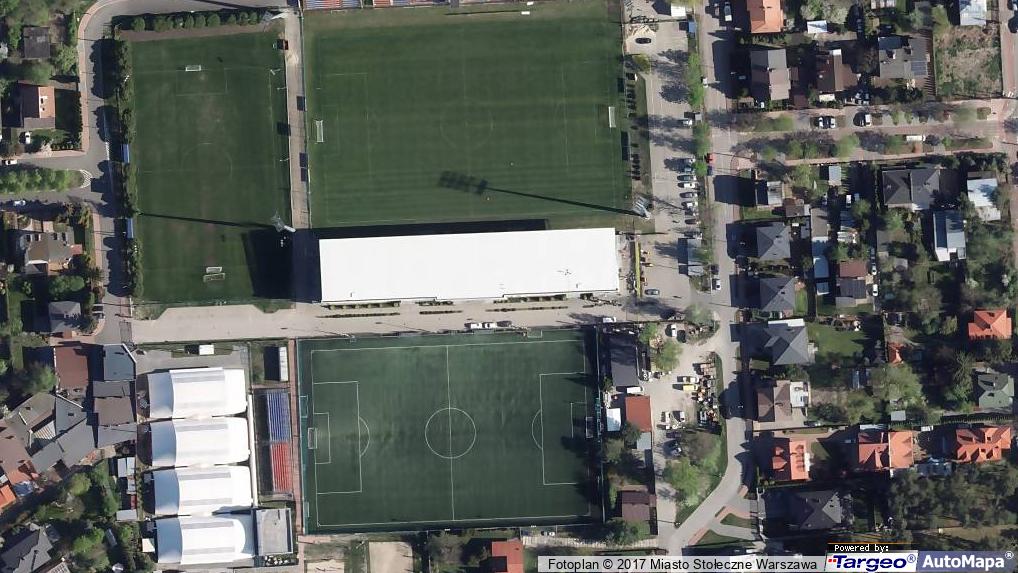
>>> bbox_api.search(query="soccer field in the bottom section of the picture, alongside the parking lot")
[297,327,605,533]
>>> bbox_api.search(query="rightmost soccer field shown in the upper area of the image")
[312,21,630,229]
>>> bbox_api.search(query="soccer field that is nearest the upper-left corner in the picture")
[129,30,291,304]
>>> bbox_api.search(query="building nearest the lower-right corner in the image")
[955,426,1011,462]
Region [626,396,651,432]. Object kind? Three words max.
building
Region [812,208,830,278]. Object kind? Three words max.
building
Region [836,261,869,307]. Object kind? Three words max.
house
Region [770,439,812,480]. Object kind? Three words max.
house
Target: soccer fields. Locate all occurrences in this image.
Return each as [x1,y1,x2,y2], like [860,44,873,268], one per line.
[129,30,291,304]
[312,21,630,229]
[297,327,605,533]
